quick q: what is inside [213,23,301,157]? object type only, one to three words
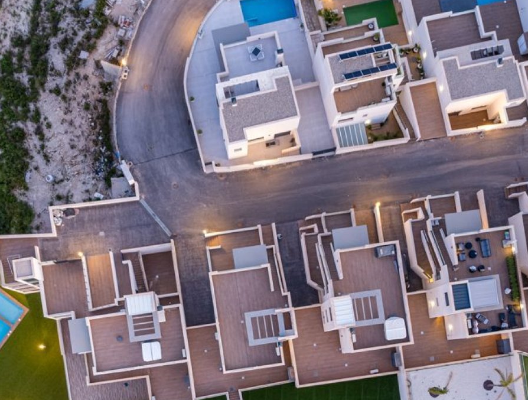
house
